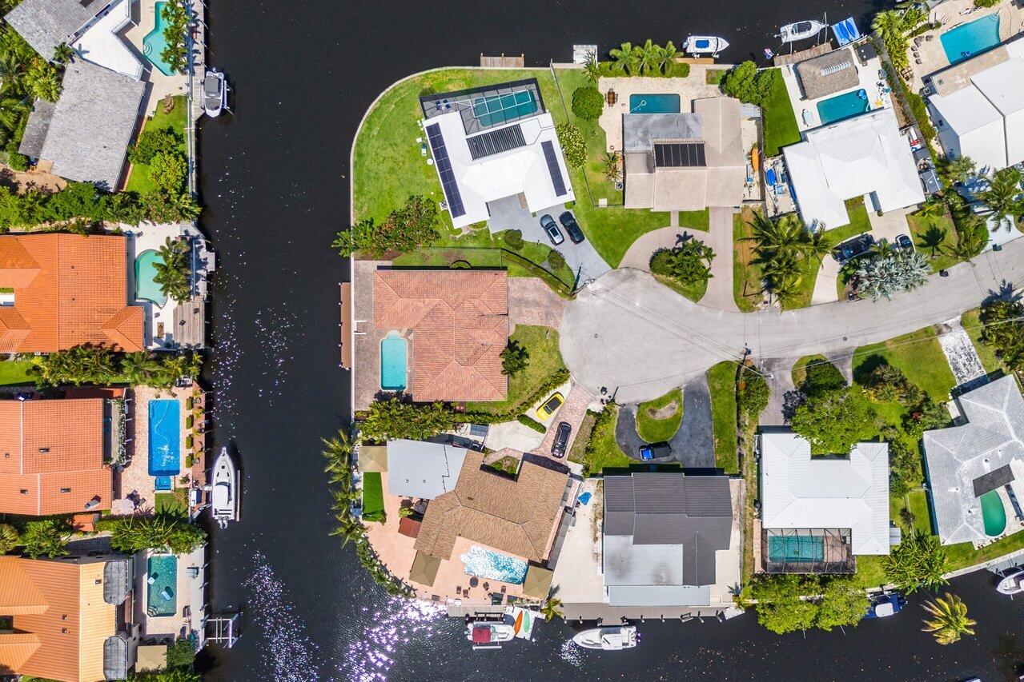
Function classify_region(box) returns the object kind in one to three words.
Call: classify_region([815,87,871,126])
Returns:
swimming pool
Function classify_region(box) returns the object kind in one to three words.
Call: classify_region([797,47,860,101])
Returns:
shed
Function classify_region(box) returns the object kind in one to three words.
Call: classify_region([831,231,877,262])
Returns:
truck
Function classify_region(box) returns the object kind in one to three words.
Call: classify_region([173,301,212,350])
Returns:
pier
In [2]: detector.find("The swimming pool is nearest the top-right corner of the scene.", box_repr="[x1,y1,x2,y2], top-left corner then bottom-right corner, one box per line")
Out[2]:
[939,12,1003,66]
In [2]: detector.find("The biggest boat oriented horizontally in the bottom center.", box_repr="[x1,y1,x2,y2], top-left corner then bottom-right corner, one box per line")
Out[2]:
[573,626,641,650]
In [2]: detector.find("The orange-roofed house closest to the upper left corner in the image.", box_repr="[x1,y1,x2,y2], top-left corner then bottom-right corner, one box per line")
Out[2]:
[0,233,150,353]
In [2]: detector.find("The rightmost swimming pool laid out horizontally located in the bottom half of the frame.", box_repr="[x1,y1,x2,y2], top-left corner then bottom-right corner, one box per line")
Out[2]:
[768,536,825,564]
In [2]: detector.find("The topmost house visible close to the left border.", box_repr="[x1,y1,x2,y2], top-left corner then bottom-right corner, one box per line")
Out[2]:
[5,0,152,194]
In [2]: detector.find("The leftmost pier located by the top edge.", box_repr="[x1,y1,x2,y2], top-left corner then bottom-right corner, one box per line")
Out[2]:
[192,0,213,120]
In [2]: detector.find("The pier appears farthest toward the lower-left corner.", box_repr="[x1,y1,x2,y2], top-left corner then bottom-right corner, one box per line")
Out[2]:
[191,549,212,653]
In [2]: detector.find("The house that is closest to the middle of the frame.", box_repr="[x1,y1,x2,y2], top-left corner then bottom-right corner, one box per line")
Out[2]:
[374,270,509,401]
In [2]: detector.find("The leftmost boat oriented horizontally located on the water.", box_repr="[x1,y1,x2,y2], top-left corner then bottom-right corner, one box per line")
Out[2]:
[463,625,515,646]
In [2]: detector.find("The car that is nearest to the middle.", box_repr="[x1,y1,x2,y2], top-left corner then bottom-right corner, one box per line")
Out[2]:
[536,390,565,422]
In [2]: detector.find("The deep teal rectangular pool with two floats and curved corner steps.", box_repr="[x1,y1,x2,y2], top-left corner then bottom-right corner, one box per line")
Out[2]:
[146,555,178,619]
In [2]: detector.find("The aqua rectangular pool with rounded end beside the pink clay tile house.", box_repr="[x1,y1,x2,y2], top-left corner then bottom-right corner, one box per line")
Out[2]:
[379,330,409,391]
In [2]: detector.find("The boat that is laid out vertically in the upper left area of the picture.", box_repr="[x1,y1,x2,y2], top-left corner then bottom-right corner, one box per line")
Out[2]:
[203,67,223,117]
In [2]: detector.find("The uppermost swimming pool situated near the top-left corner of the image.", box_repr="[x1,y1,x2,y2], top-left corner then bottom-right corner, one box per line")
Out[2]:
[141,0,181,77]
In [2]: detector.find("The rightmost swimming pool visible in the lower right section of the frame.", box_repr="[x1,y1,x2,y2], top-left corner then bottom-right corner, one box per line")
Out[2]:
[981,490,1008,538]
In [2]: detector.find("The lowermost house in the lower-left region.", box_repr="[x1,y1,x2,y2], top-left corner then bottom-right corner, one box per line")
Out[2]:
[0,549,150,682]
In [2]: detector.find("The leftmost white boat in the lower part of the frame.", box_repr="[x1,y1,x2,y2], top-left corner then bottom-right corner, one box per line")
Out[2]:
[212,448,235,526]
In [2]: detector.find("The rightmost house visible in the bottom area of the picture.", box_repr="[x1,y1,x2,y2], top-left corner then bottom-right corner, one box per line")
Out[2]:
[916,374,1024,546]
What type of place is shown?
residential area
